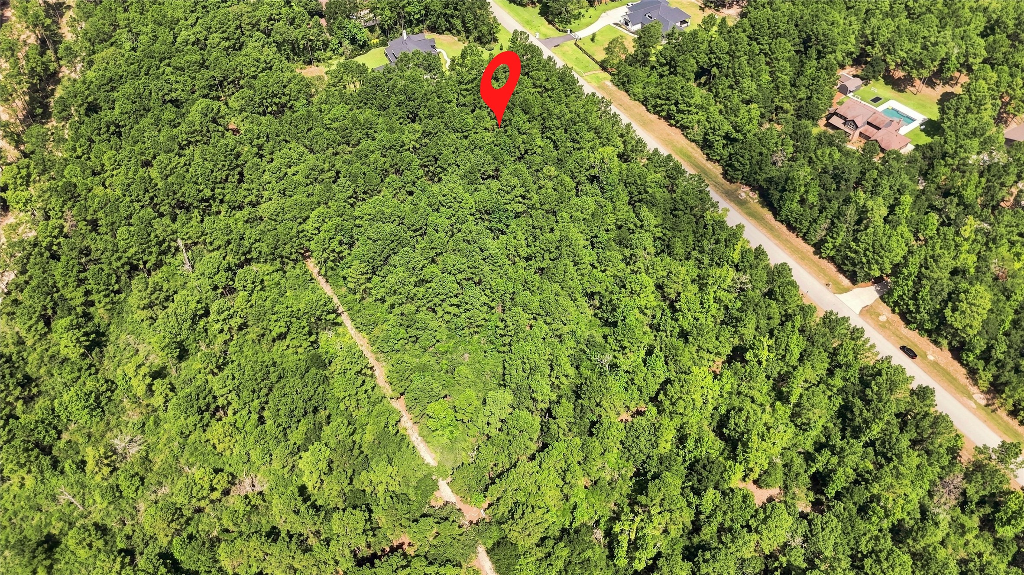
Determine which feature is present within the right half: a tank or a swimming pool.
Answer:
swimming pool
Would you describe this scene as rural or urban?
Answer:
rural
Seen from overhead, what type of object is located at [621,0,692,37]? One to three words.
house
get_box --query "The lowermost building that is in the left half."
[372,30,444,76]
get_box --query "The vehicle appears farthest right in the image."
[900,344,920,361]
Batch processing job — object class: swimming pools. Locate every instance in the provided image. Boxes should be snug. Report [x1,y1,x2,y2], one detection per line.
[848,94,928,131]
